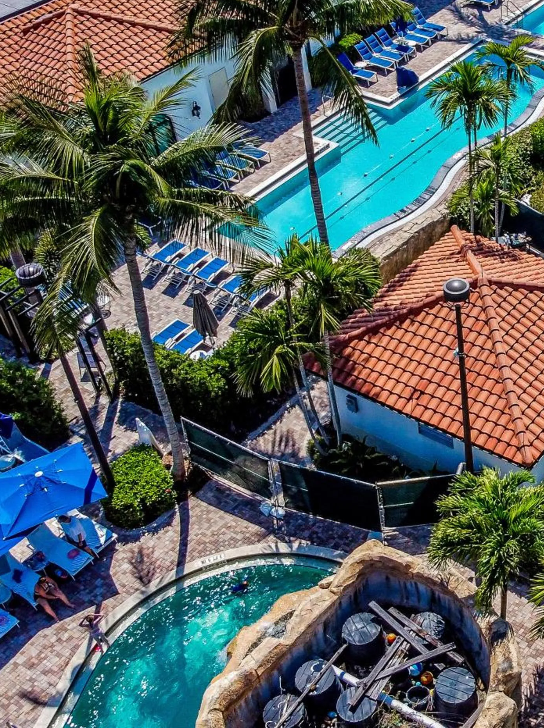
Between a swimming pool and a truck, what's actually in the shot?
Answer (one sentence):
There is a swimming pool in the scene.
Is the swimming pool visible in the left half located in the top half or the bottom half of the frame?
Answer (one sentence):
The swimming pool visible in the left half sits in the bottom half of the picture.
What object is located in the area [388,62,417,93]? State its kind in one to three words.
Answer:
umbrella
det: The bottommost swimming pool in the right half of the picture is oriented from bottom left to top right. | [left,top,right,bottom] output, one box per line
[221,45,544,259]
